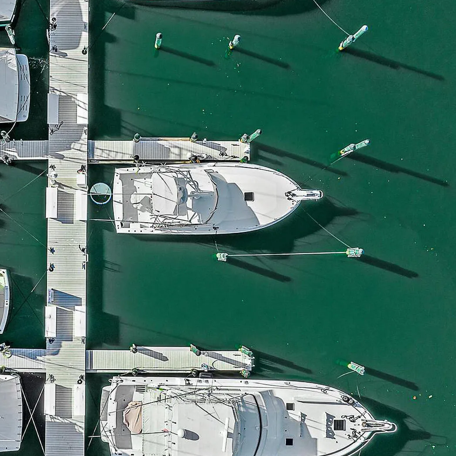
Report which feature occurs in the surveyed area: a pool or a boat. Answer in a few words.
boat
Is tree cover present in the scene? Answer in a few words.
No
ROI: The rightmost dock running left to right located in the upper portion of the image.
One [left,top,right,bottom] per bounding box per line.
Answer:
[87,136,250,164]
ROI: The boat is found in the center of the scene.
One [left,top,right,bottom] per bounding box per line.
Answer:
[95,162,323,235]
